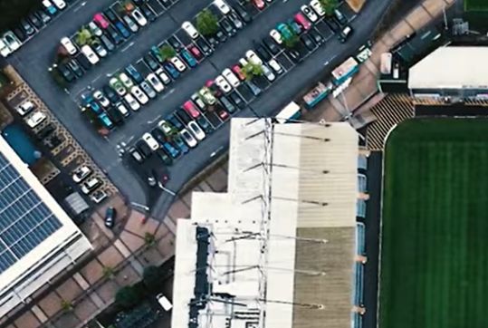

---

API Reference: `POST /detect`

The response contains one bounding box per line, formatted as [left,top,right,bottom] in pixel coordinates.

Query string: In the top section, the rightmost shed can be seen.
[397,27,431,62]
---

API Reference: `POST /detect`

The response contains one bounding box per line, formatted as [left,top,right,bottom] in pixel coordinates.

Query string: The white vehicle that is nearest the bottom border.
[155,291,171,312]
